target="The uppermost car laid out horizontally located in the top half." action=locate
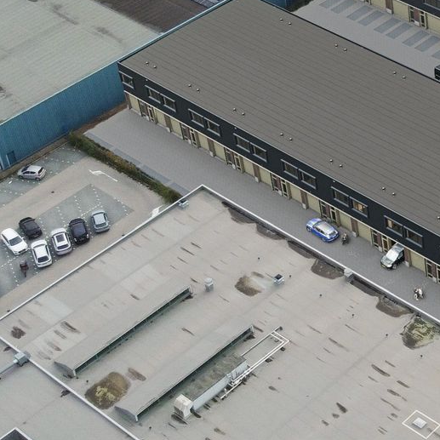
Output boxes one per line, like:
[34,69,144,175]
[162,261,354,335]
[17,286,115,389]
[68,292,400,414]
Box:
[15,163,49,183]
